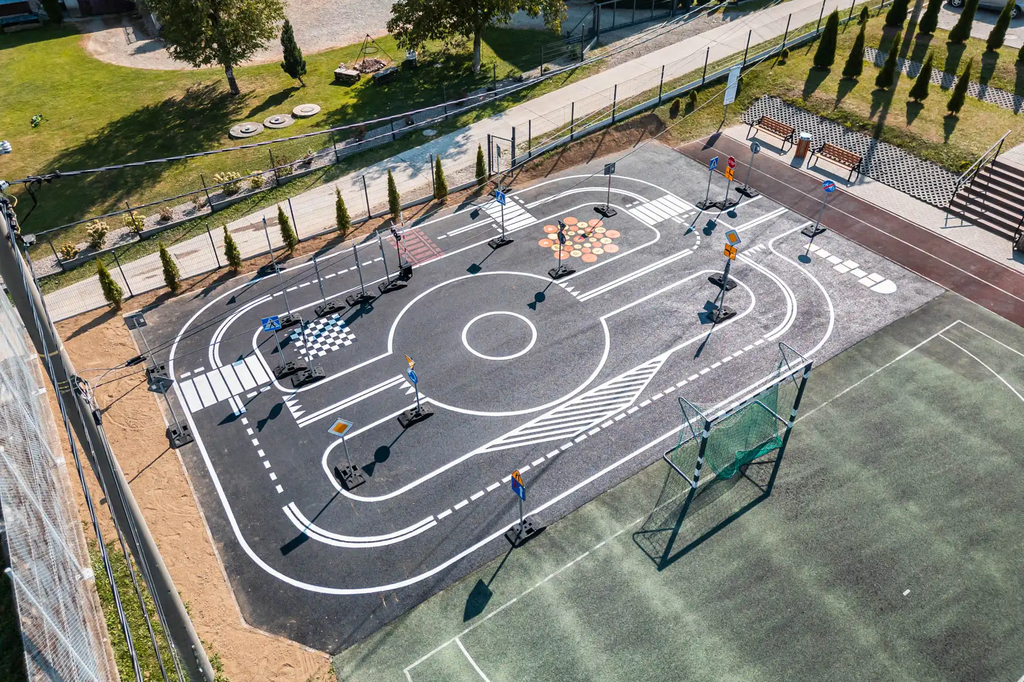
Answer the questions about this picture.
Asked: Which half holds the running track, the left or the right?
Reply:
right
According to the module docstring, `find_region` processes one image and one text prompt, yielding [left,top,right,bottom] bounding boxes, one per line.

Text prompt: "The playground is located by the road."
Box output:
[125,139,944,657]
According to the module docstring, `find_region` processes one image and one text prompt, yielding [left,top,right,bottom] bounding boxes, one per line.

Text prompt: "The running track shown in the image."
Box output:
[673,131,1024,327]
